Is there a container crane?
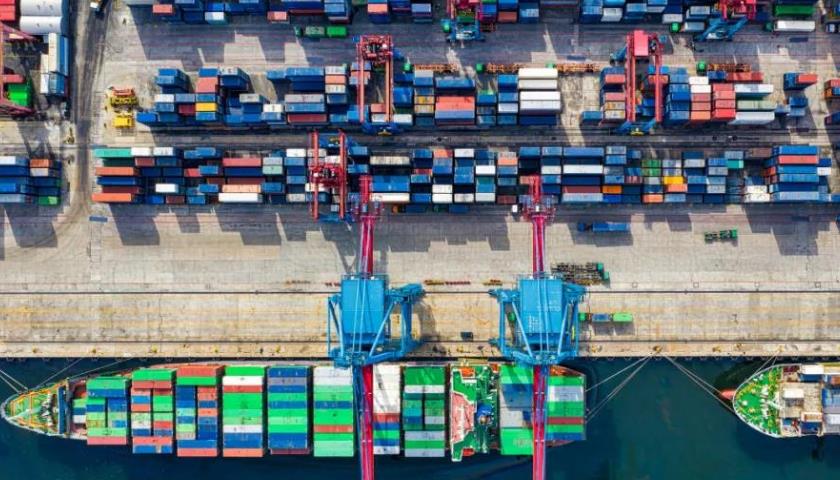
Yes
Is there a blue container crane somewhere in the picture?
Yes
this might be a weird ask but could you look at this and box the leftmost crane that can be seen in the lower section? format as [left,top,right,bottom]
[327,176,427,480]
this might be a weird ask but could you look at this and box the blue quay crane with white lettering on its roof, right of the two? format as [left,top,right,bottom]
[484,176,587,480]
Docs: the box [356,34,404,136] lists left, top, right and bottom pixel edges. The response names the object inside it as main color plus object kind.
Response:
red container crane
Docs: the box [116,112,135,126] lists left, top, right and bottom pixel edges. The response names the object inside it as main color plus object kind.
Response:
yellow vehicle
